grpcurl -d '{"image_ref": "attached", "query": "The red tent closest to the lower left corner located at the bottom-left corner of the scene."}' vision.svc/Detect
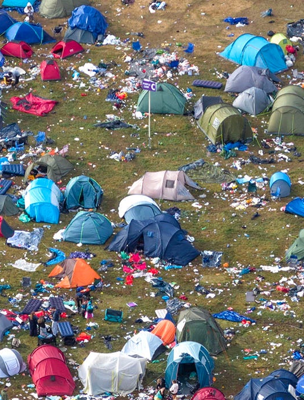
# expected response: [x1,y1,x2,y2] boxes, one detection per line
[28,344,75,395]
